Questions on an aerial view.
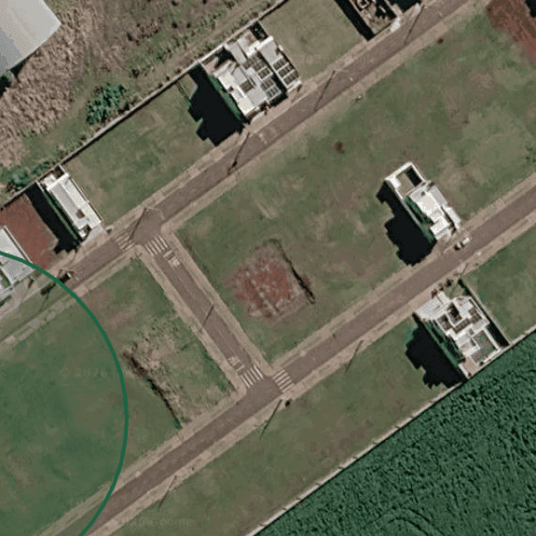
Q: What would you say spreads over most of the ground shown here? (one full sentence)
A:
The largest share of the image is taken up by grass.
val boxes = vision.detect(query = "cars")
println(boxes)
[458,237,472,249]
[61,271,75,283]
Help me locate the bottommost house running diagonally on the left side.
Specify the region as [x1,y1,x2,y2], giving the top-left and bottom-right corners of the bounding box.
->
[37,174,103,241]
